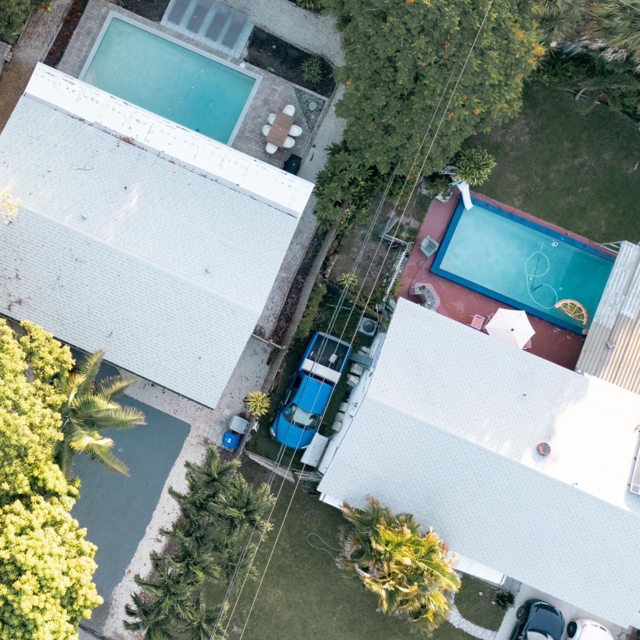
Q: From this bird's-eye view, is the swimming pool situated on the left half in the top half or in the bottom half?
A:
top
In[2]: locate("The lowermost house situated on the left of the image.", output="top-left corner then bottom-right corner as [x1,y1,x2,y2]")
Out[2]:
[0,59,317,410]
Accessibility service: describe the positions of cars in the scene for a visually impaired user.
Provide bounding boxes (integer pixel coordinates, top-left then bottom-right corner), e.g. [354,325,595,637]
[563,612,621,640]
[502,593,566,640]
